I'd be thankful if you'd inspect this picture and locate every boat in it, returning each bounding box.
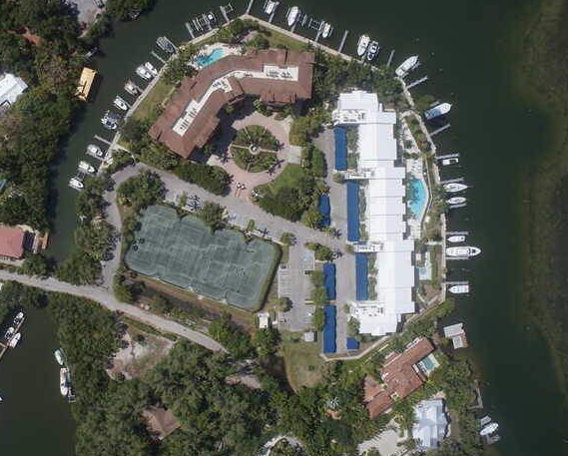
[143,61,157,74]
[445,197,467,204]
[289,5,300,26]
[4,327,14,340]
[442,183,469,191]
[443,158,460,166]
[449,286,469,293]
[122,82,137,93]
[13,313,23,326]
[68,180,83,188]
[111,97,126,109]
[448,236,466,242]
[422,104,453,121]
[207,9,214,23]
[323,21,331,38]
[446,246,482,256]
[100,116,116,128]
[358,33,371,55]
[368,39,379,60]
[135,68,149,78]
[78,161,94,170]
[58,367,66,397]
[9,333,20,349]
[266,0,275,13]
[85,144,102,155]
[155,36,174,51]
[478,424,499,437]
[393,55,419,77]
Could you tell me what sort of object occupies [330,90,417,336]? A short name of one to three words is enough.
building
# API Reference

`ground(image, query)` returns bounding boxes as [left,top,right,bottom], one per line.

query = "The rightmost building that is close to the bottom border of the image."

[410,397,448,447]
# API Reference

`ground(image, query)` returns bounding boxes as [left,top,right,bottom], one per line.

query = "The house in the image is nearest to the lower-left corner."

[142,405,181,440]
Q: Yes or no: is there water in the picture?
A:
Yes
